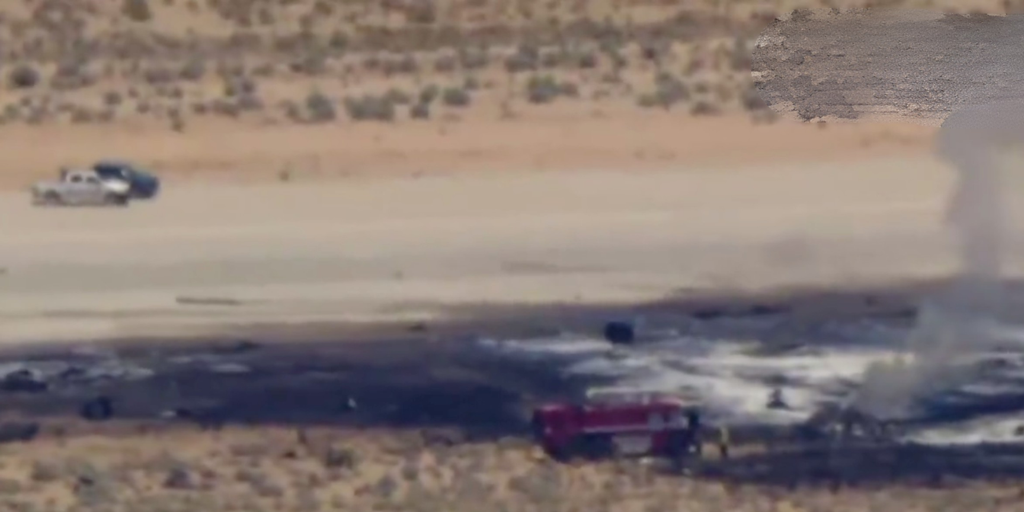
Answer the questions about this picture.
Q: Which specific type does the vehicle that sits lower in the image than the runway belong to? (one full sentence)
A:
Looking closely, the vehicle that sits lower in the image than the runway is a truck.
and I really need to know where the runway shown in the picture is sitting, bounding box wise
[0,145,1024,345]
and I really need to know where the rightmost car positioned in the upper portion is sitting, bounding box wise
[91,155,160,189]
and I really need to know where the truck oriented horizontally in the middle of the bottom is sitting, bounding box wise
[534,393,703,460]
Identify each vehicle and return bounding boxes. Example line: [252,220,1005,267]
[534,393,703,460]
[91,155,160,189]
[29,169,131,205]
